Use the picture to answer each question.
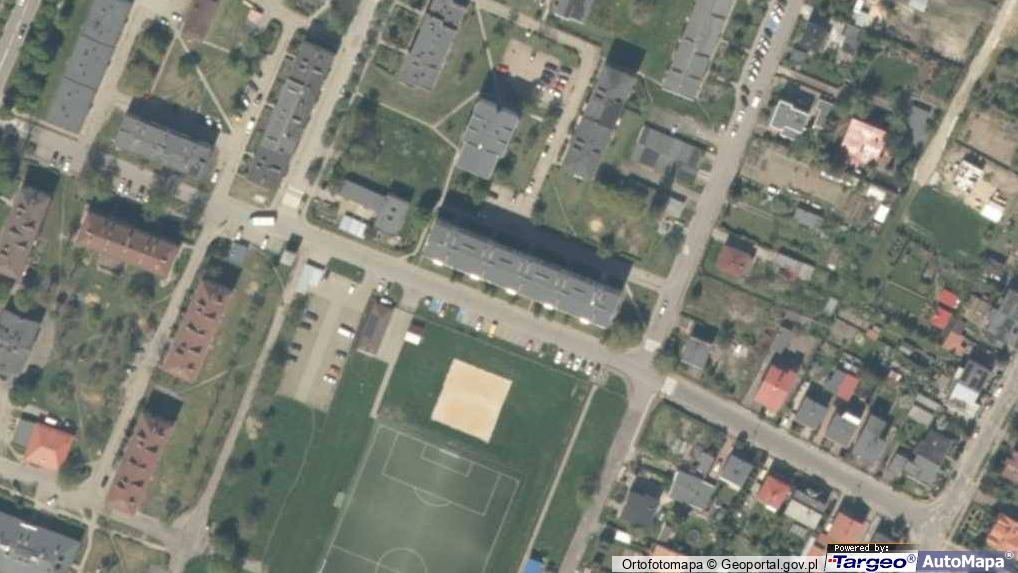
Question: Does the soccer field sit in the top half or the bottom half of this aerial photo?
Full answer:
The soccer field sits in the bottom half of the picture.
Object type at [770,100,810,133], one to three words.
house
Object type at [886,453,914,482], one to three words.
shed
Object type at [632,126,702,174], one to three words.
building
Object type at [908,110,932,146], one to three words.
barn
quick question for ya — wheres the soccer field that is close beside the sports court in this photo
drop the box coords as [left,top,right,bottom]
[315,420,524,573]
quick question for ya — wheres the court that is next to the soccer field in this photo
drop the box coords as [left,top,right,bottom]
[432,359,513,443]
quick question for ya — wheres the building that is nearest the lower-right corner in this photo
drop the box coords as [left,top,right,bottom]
[987,513,1018,552]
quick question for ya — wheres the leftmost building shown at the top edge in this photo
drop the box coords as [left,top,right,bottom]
[46,0,136,137]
